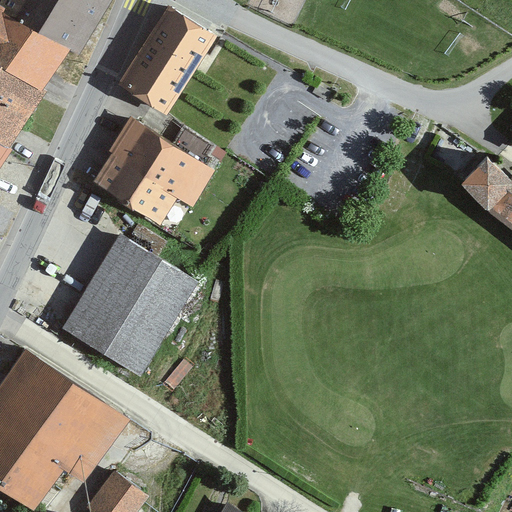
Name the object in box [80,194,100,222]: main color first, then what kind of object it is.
white vehicle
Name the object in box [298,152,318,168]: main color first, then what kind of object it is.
white car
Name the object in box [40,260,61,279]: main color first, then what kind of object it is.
white work vehicle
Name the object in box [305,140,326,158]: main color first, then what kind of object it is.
gray car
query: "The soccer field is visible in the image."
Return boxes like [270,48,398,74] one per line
[291,0,512,82]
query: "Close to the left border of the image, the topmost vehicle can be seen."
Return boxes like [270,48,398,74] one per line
[12,141,34,160]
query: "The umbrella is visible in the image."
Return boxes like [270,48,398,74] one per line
[167,206,184,223]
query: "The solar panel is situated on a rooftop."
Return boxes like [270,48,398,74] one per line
[175,54,202,92]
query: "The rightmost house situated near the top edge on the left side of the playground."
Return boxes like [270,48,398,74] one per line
[118,4,218,113]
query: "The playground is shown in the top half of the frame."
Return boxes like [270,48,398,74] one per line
[242,0,306,24]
